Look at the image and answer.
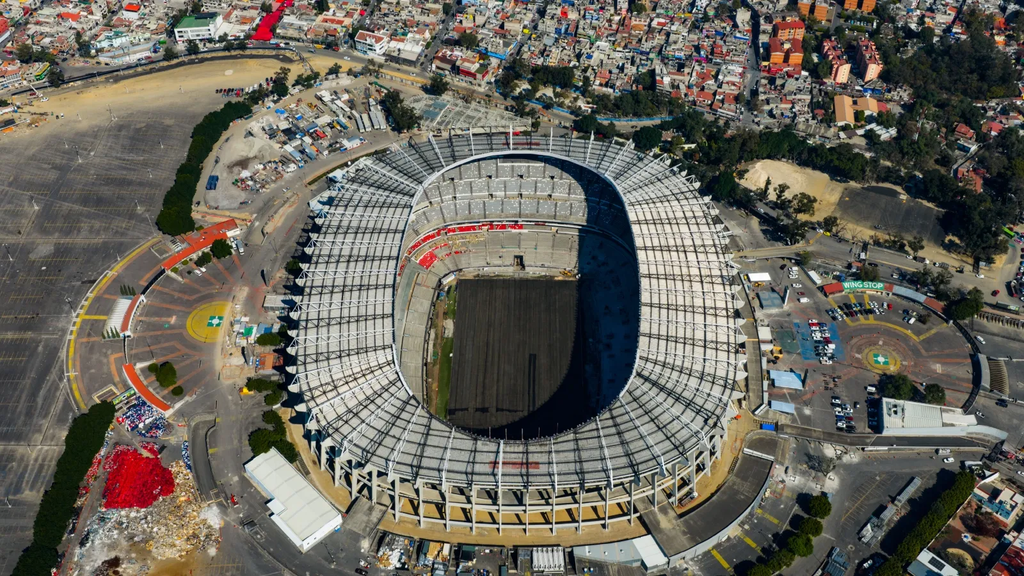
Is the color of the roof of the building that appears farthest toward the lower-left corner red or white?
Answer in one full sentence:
The roof of the building that appears farthest toward the lower-left corner looks red in the image.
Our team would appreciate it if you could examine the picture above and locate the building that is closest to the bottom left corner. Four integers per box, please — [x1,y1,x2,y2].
[122,364,174,418]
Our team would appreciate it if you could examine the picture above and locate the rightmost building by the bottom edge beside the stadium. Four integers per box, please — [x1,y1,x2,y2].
[633,534,668,573]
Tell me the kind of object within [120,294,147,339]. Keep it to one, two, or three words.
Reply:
building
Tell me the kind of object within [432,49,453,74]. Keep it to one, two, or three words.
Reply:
house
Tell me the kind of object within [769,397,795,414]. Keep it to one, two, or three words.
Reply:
shed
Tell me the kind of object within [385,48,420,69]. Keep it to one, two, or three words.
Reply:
building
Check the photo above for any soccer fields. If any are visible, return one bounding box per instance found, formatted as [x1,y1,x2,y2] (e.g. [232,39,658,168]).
[430,272,601,427]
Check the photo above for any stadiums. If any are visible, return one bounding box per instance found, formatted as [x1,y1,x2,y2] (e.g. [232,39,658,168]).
[284,124,749,534]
